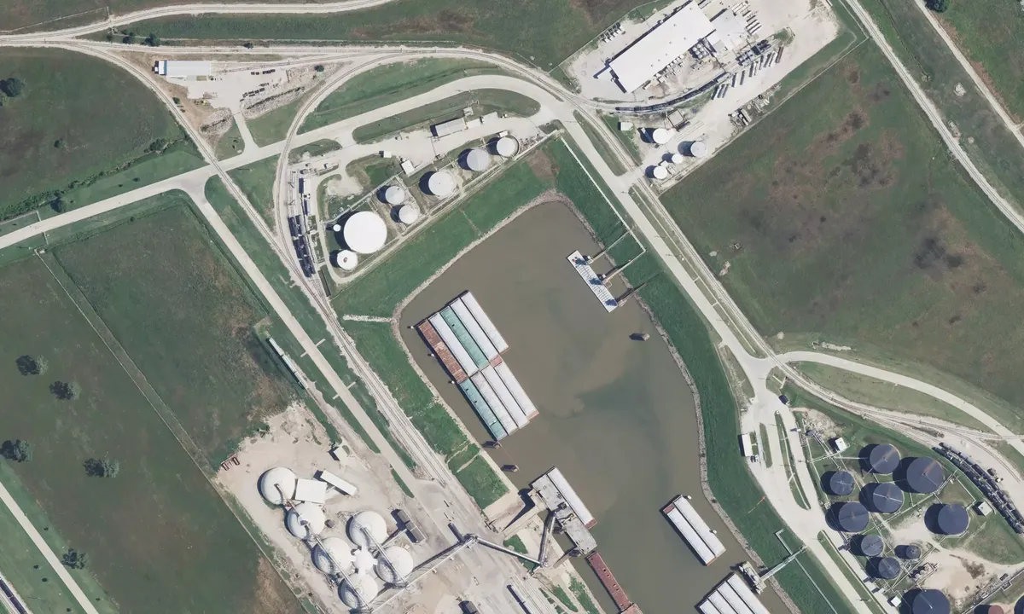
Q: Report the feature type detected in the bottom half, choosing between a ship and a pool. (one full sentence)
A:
The feature located in the bottom half is a ship.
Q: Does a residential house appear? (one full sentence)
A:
Yes, the frame does contain a residential house.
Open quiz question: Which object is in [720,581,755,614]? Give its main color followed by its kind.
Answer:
white ship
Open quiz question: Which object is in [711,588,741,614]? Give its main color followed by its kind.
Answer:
white ship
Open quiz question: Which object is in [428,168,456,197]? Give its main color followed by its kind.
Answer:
white storage tank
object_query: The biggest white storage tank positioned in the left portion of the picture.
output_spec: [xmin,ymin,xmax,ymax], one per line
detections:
[343,209,387,254]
